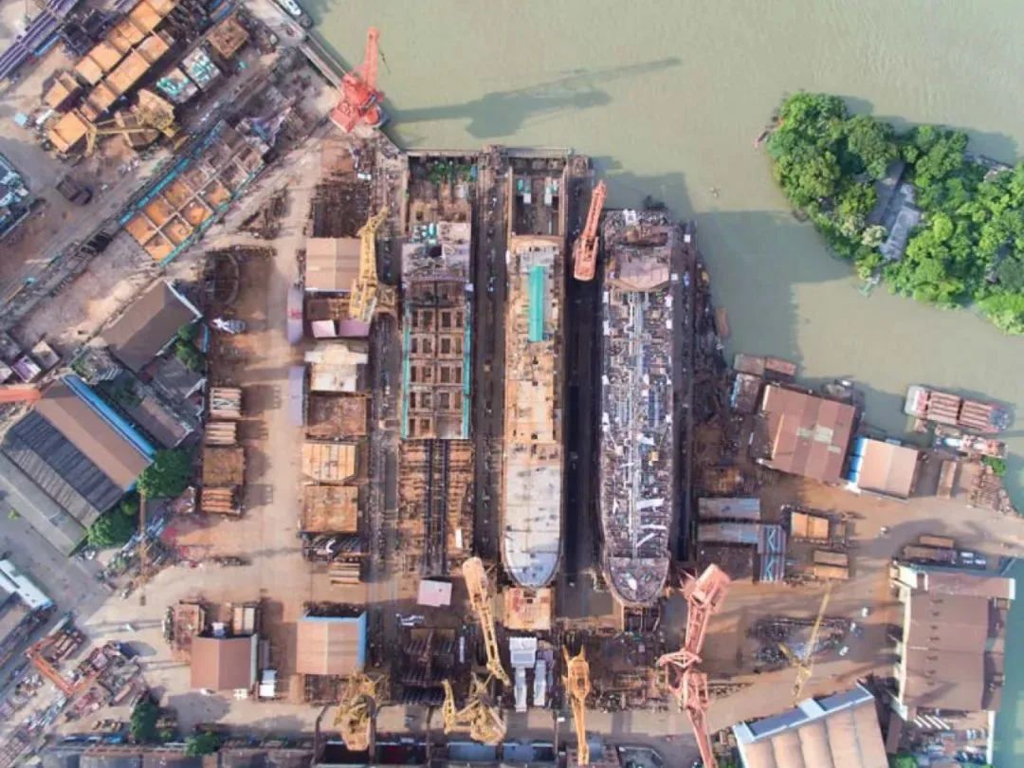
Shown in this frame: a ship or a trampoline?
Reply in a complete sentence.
I can see a ship in this picture.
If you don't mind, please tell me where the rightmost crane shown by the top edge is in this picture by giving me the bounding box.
[329,26,394,148]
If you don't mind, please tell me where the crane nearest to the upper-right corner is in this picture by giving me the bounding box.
[567,181,601,282]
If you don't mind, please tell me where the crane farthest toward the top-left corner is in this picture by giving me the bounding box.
[92,99,196,152]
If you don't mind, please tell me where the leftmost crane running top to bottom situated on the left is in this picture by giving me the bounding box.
[125,506,155,608]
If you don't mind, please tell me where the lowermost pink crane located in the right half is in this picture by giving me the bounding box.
[662,654,714,768]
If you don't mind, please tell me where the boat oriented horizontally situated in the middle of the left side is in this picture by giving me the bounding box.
[213,320,243,332]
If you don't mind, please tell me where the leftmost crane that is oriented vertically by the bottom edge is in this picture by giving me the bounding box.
[342,642,383,751]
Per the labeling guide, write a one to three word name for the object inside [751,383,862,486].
shed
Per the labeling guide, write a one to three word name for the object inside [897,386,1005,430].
ship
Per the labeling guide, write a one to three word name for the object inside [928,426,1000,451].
boat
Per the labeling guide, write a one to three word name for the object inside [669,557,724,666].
crane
